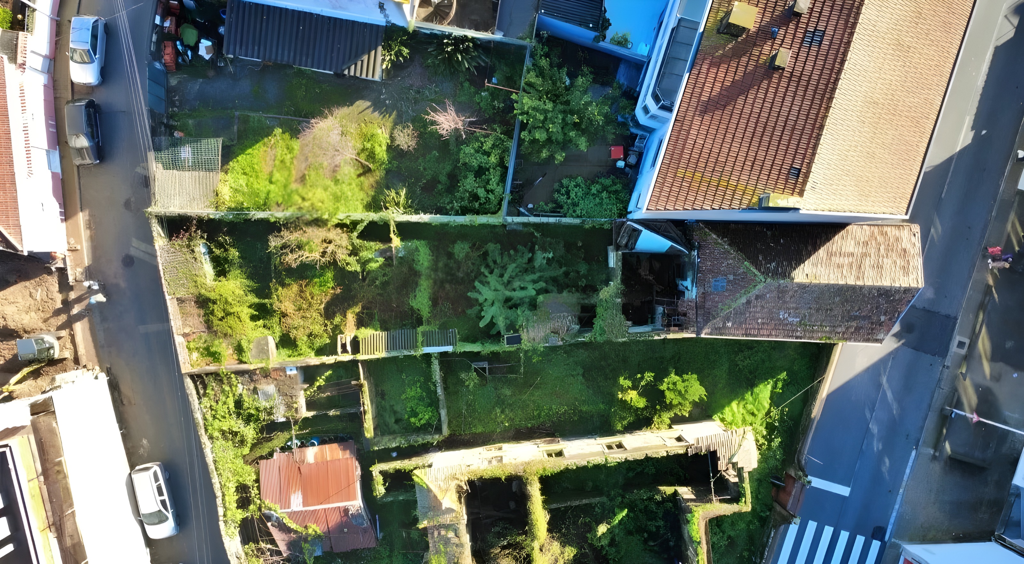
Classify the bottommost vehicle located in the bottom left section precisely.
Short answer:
car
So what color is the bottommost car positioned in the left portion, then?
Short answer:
white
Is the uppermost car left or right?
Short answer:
left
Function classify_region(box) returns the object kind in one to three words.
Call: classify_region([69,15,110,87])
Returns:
car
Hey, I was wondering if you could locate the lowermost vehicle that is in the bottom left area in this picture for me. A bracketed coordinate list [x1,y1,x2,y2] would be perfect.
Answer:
[132,463,180,538]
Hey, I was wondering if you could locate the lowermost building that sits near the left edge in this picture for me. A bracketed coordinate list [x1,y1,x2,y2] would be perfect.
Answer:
[0,366,149,564]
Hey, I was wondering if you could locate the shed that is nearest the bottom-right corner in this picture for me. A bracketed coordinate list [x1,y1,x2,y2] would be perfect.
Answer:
[767,468,809,514]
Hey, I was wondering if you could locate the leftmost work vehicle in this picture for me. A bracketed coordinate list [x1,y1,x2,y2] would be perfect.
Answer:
[0,332,71,401]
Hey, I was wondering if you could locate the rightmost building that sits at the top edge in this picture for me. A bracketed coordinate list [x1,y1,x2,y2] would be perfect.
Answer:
[624,0,979,222]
